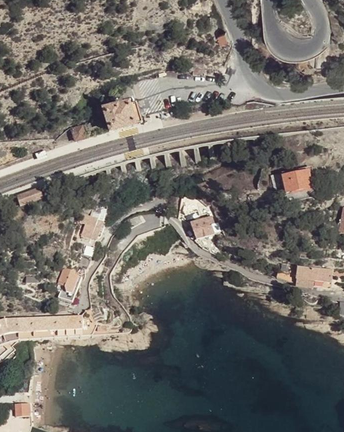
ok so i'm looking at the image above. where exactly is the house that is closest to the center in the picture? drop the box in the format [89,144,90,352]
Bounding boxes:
[185,212,222,242]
